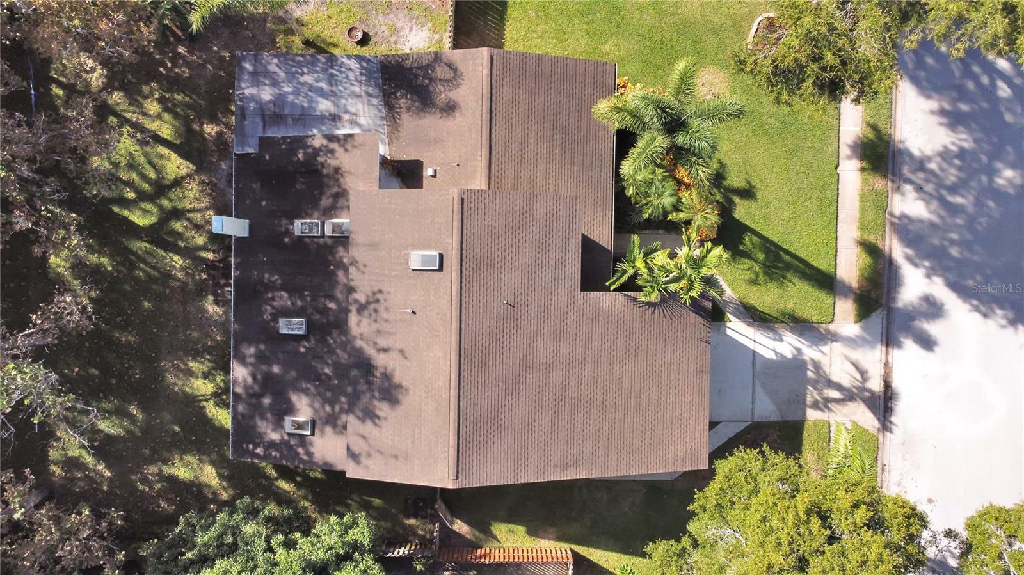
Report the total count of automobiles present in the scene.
0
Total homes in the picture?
1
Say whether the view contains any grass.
Yes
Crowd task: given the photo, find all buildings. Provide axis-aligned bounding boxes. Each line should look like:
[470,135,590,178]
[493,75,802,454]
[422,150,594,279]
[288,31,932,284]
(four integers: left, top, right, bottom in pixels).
[215,46,711,490]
